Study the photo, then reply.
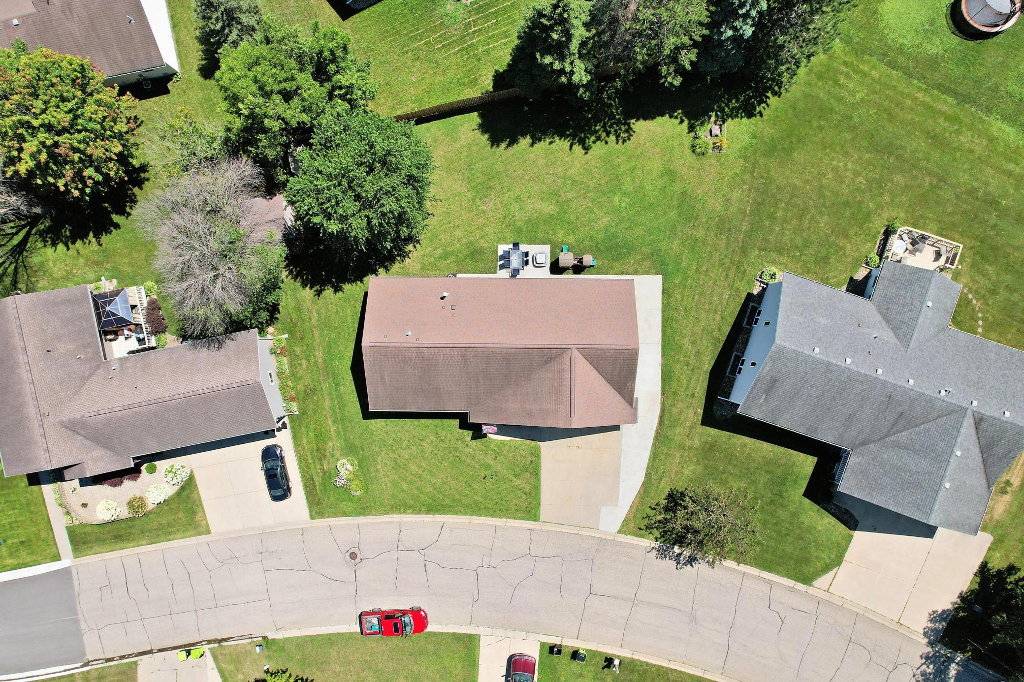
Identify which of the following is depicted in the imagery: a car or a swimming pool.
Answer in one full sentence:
Visible in the photo is a car.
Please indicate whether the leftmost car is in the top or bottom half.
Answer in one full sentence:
Seen from above, the leftmost car lies in the bottom half of the view.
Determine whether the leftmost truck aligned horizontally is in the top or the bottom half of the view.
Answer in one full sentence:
Seen from above, the leftmost truck aligned horizontally lies in the bottom half of the view.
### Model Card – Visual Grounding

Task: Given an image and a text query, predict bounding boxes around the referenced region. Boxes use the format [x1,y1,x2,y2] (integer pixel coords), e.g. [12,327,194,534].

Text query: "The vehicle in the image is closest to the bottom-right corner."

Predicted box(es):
[510,652,538,682]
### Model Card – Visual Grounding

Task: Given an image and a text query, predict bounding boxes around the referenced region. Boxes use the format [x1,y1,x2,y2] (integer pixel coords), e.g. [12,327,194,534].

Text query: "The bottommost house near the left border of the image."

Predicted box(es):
[0,285,302,480]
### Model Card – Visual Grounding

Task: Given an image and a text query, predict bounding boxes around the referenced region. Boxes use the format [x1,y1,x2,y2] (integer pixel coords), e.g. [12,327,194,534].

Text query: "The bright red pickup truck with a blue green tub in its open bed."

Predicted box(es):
[358,606,429,639]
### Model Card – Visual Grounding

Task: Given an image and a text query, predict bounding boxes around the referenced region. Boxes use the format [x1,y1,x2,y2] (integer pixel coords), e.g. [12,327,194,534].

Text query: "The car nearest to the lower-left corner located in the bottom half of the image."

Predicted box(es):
[259,444,293,504]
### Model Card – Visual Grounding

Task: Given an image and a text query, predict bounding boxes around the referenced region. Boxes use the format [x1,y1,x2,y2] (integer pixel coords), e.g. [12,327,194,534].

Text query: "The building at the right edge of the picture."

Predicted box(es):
[711,259,1024,537]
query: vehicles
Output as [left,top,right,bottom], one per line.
[259,444,293,504]
[358,606,429,639]
[510,652,538,682]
